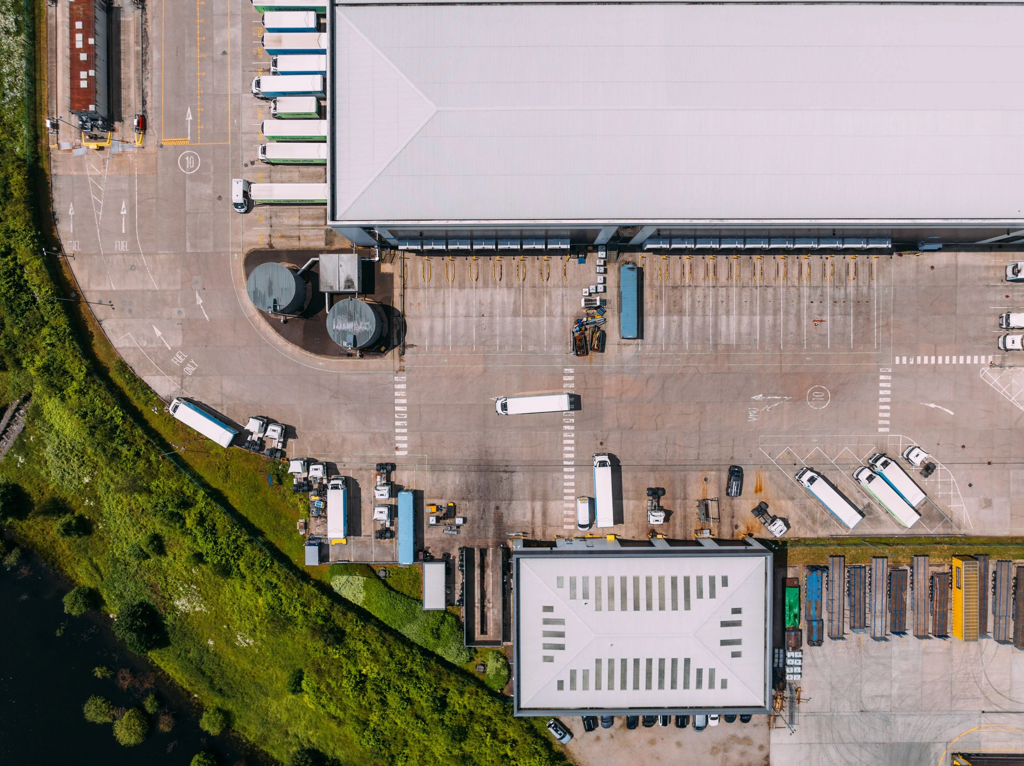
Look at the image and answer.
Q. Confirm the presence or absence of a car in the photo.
Yes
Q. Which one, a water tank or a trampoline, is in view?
water tank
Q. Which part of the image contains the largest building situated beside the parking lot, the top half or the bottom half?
bottom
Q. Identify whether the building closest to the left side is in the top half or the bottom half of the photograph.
top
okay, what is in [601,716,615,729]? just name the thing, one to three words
vehicle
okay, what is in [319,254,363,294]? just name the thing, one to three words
building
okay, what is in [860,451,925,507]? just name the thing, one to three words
truck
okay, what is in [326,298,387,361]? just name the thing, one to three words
water tank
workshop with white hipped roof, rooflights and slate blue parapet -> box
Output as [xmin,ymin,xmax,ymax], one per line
[508,539,773,716]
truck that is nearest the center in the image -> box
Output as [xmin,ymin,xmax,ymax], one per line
[494,394,570,416]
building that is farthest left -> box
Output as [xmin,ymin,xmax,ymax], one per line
[65,0,112,120]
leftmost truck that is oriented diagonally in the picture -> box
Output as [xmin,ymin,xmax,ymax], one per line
[167,395,243,448]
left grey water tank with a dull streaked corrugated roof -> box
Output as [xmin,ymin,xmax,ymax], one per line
[246,262,311,326]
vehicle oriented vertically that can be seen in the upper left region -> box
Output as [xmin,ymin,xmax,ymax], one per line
[231,176,248,215]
